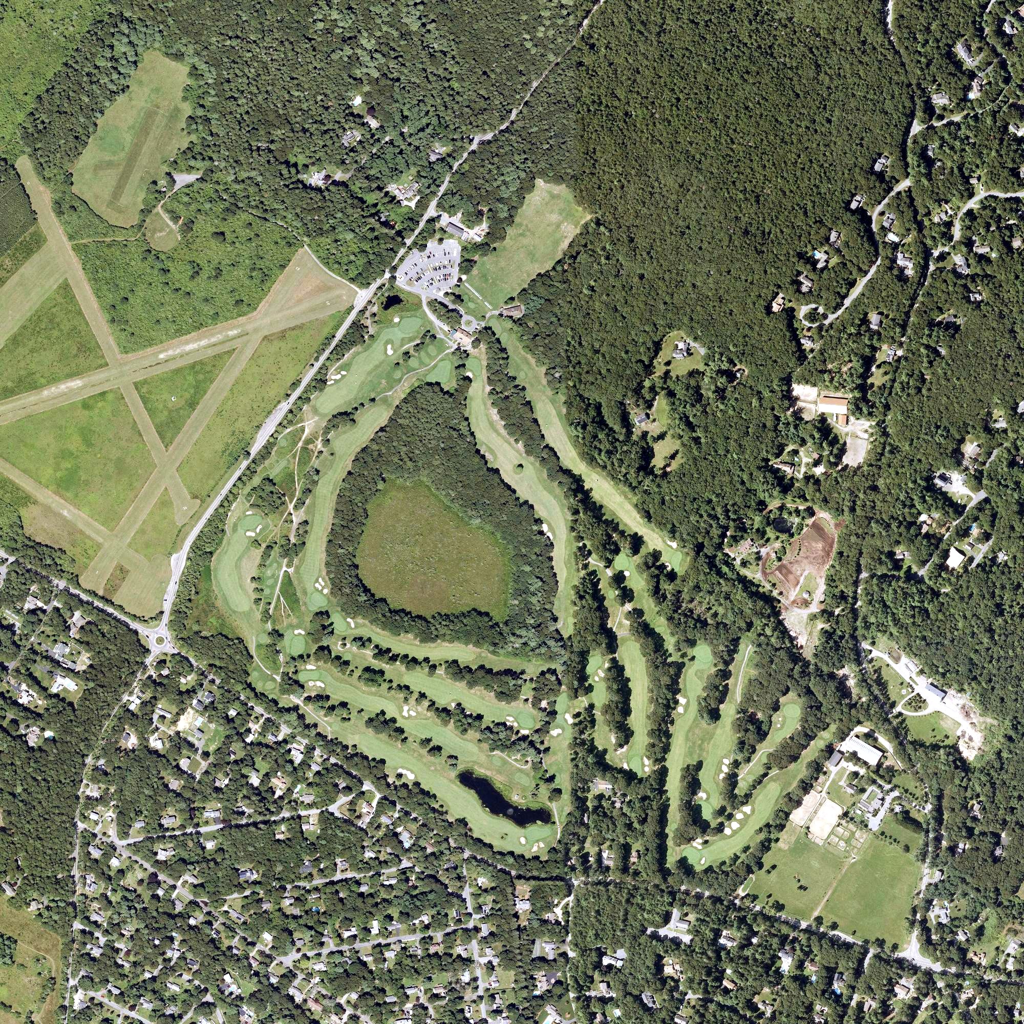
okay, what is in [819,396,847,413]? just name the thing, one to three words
barn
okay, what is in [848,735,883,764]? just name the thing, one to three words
barn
